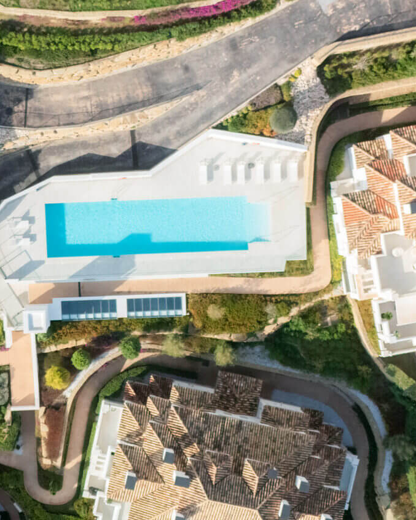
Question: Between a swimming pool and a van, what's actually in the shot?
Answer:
swimming pool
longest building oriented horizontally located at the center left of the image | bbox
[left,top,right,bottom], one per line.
[30,284,187,322]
